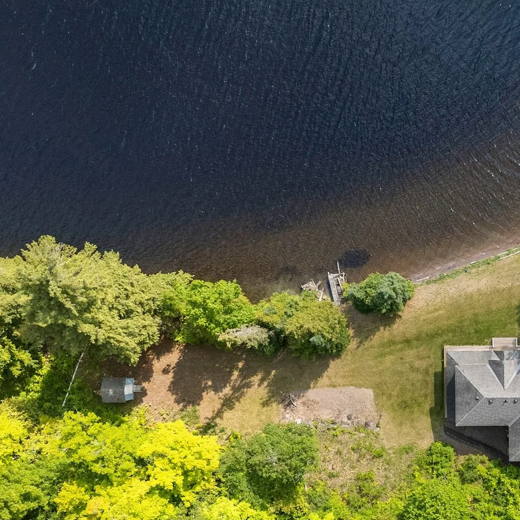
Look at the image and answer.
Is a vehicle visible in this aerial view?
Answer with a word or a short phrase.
No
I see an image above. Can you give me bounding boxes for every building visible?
[96,377,143,403]
[444,337,520,463]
